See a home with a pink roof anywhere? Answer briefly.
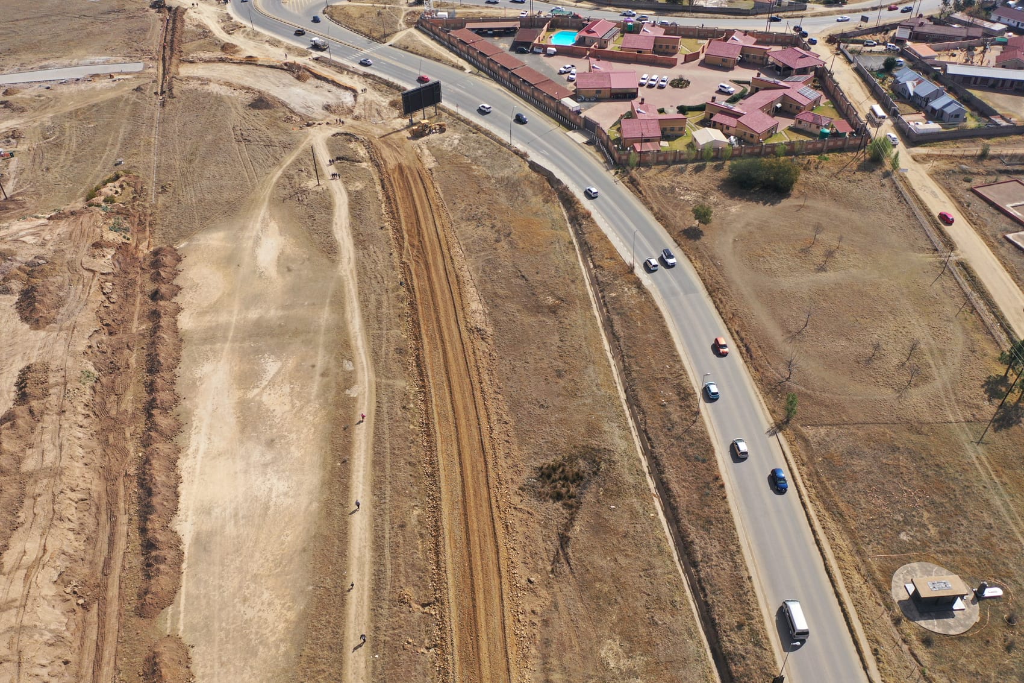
Yes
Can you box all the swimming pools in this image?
[547,30,582,47]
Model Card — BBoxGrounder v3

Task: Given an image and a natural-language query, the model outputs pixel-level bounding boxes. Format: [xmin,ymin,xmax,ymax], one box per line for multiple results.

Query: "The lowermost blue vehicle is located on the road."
[771,468,788,491]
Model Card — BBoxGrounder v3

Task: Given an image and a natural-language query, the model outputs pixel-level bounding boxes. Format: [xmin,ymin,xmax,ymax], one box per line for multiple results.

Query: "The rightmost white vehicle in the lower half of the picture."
[783,601,815,643]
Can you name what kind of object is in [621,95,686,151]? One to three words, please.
house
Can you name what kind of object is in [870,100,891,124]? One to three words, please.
bus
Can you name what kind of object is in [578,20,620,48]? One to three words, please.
building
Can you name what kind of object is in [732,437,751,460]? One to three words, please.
car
